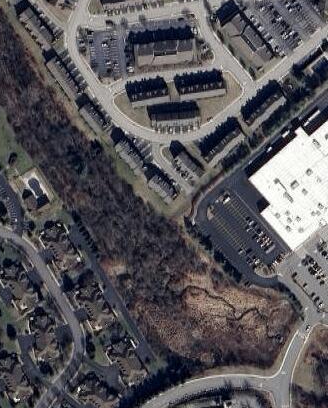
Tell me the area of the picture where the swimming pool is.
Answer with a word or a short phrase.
left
